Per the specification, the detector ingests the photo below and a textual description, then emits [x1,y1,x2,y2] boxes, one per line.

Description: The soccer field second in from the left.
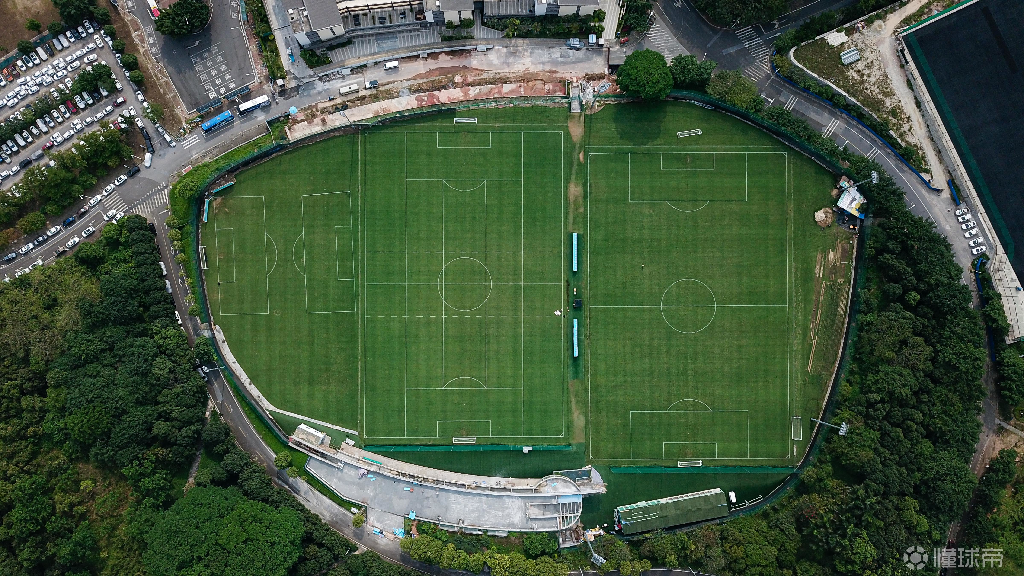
[359,114,571,445]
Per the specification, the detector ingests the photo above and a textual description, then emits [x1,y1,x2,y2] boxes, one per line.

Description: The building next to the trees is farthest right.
[891,0,1024,292]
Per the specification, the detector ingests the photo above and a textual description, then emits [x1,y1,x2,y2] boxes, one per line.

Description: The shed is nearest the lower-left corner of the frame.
[292,422,329,447]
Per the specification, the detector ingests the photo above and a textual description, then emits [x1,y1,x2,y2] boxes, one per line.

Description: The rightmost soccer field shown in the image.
[586,145,800,471]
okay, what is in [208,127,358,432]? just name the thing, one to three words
soccer field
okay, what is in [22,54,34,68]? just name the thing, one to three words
vehicle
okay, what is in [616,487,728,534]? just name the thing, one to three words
shed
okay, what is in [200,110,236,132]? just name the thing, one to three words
bus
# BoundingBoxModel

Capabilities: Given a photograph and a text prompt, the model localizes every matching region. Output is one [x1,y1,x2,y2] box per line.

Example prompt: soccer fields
[208,127,358,432]
[359,114,571,445]
[586,145,800,471]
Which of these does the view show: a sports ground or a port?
sports ground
